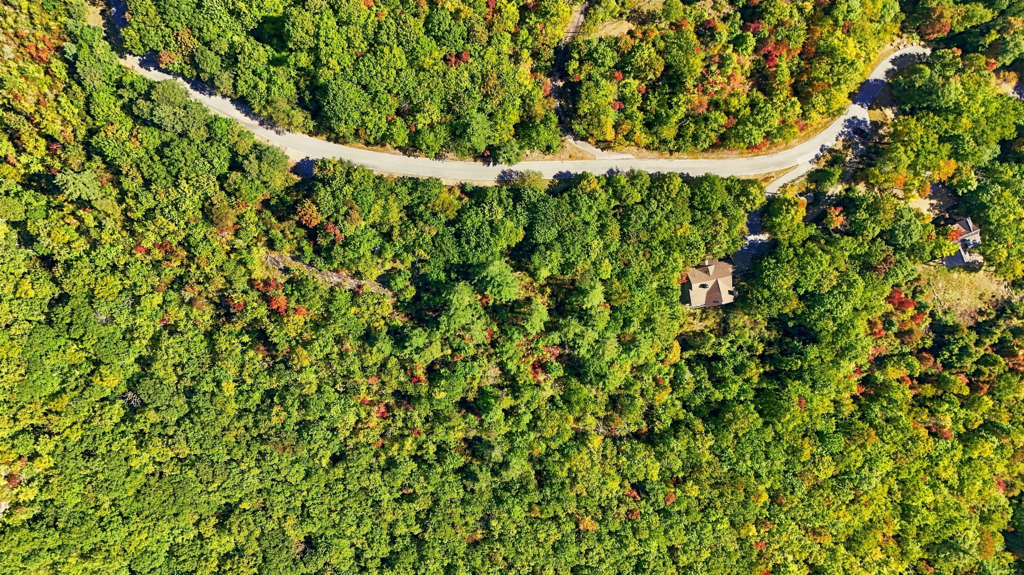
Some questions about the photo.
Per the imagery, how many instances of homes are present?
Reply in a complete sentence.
My tally gives 2 homes in this view.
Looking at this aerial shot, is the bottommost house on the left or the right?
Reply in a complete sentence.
The bottommost house is on the right side of the image.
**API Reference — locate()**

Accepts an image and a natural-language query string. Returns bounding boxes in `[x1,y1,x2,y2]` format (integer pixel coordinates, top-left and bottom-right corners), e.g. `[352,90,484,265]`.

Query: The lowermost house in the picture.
[684,257,740,310]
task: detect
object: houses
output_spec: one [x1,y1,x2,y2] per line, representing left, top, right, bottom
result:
[940,216,980,272]
[684,257,740,310]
